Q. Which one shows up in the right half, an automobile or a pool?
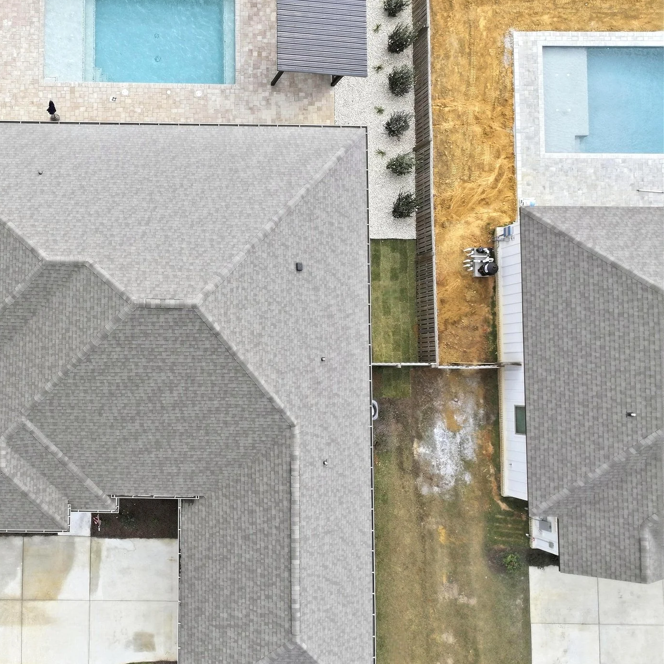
pool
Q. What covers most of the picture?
buildings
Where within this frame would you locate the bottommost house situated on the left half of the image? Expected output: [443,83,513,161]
[0,122,375,664]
